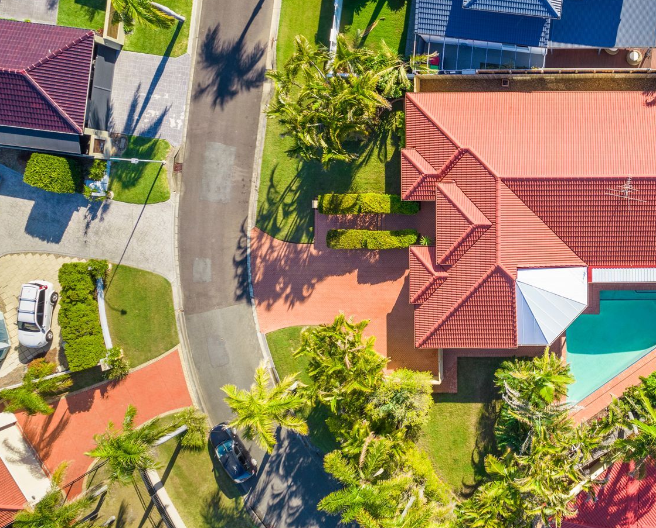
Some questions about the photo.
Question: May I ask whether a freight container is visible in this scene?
No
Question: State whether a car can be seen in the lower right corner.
No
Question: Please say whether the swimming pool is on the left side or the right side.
right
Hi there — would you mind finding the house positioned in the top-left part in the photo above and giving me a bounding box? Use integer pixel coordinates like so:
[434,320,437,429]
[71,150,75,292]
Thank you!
[0,18,119,135]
